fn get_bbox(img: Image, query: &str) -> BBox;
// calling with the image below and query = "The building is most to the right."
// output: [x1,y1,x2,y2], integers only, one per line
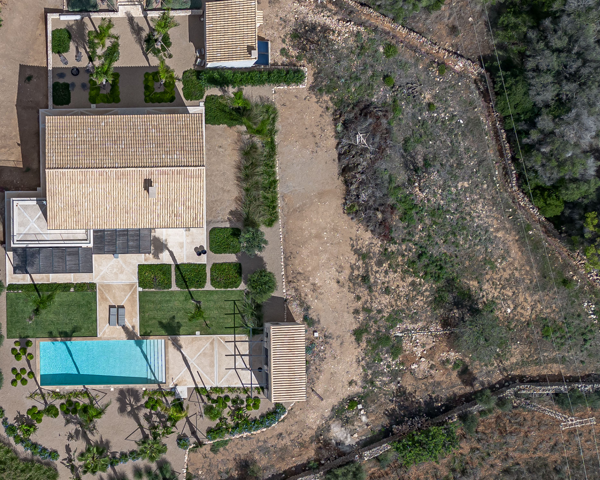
[266,324,306,403]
